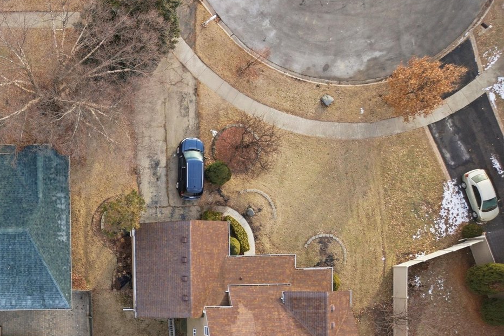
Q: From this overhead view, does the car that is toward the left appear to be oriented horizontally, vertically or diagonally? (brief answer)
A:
vertically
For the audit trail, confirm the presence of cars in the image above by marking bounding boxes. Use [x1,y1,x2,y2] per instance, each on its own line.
[177,138,209,199]
[463,166,503,225]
